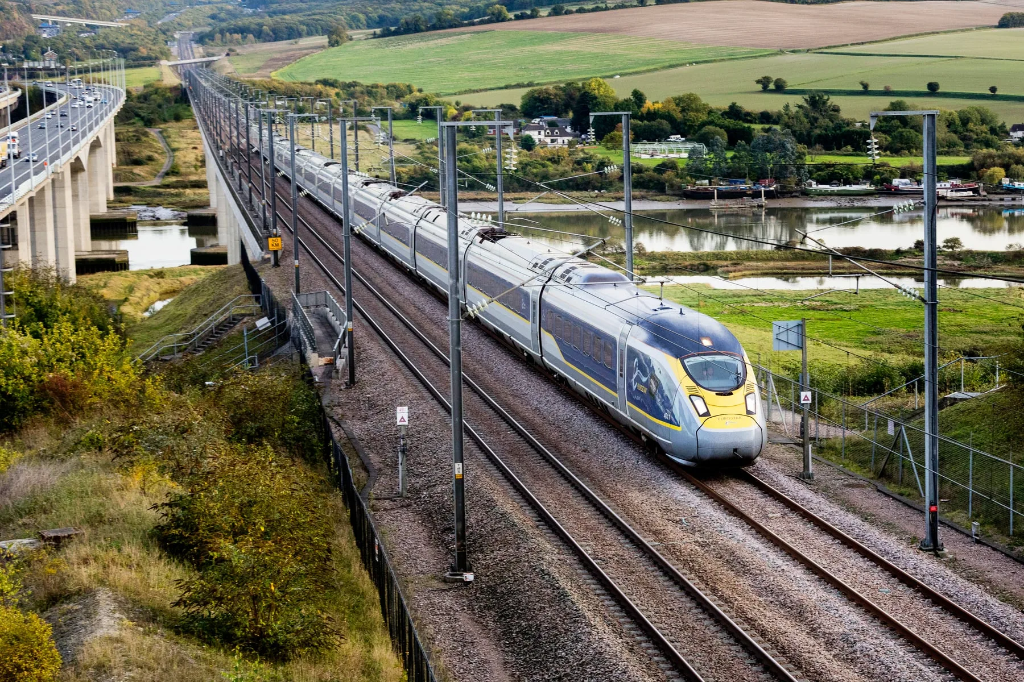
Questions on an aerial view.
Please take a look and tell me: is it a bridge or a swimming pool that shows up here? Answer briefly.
bridge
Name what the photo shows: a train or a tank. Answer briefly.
train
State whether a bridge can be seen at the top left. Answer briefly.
Yes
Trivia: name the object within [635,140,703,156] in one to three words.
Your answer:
greenhouse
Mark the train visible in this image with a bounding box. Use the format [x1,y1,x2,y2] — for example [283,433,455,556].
[251,118,766,477]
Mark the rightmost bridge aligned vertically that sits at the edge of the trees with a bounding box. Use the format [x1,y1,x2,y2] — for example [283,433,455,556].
[188,84,283,263]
